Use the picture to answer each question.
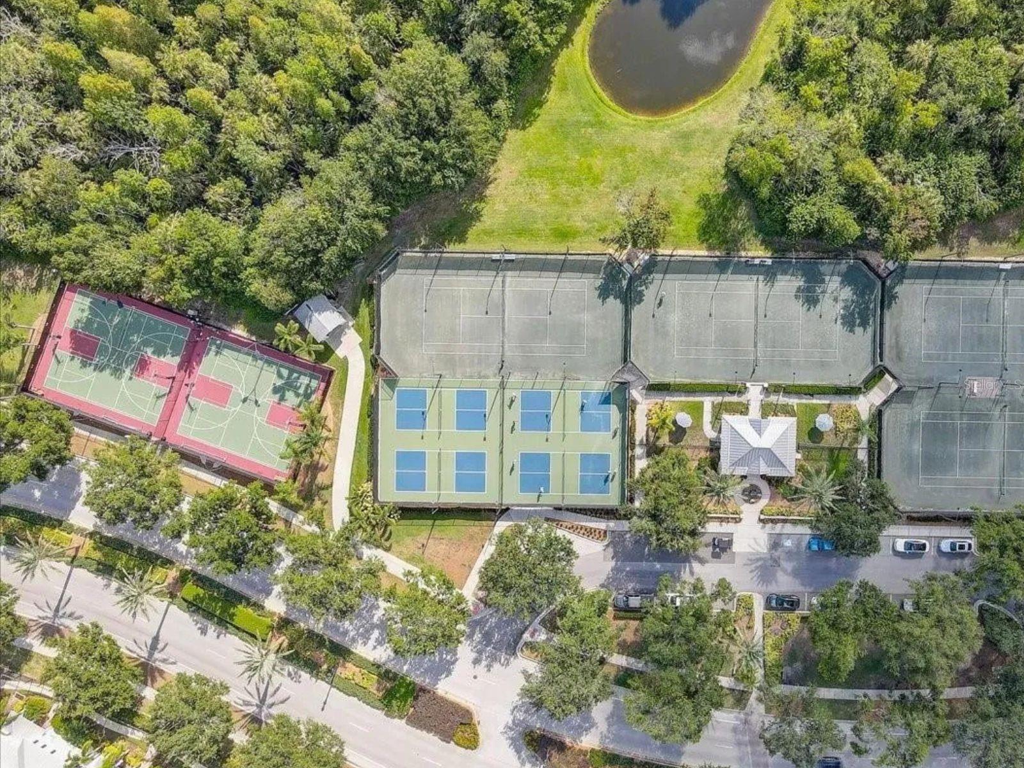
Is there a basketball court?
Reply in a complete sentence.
Yes, I can see a basketball court in this picture.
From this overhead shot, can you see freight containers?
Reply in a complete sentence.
No, no freight container is visible in the scene.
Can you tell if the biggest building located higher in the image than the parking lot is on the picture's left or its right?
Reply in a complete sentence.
It is on the right.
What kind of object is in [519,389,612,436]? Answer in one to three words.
sports court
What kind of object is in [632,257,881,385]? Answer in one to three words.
tennis court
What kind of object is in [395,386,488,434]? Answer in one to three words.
sports court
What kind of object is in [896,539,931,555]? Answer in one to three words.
car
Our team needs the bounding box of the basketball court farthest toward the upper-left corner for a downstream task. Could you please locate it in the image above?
[29,286,204,443]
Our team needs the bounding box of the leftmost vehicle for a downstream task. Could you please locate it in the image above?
[614,595,654,612]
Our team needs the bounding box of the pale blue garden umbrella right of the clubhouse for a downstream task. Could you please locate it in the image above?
[814,413,832,431]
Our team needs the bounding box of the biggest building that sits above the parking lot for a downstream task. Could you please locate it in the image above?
[717,415,797,477]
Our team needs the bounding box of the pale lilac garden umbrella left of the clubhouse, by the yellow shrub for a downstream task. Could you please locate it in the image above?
[675,412,691,428]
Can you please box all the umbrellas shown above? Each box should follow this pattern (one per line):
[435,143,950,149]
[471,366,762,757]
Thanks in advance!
[675,412,691,428]
[814,413,832,431]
